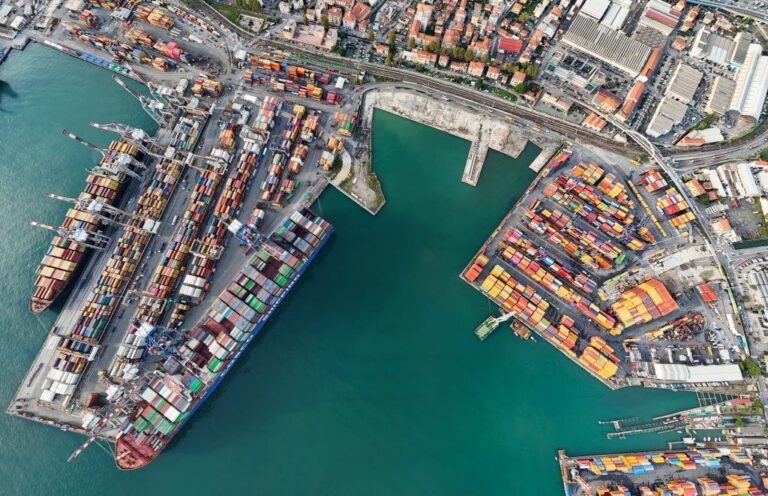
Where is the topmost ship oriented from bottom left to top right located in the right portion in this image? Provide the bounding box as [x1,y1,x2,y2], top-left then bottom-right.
[475,310,518,340]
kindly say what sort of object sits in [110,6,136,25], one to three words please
house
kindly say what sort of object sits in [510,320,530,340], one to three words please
ship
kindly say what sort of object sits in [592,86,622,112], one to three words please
house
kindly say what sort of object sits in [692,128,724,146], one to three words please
building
